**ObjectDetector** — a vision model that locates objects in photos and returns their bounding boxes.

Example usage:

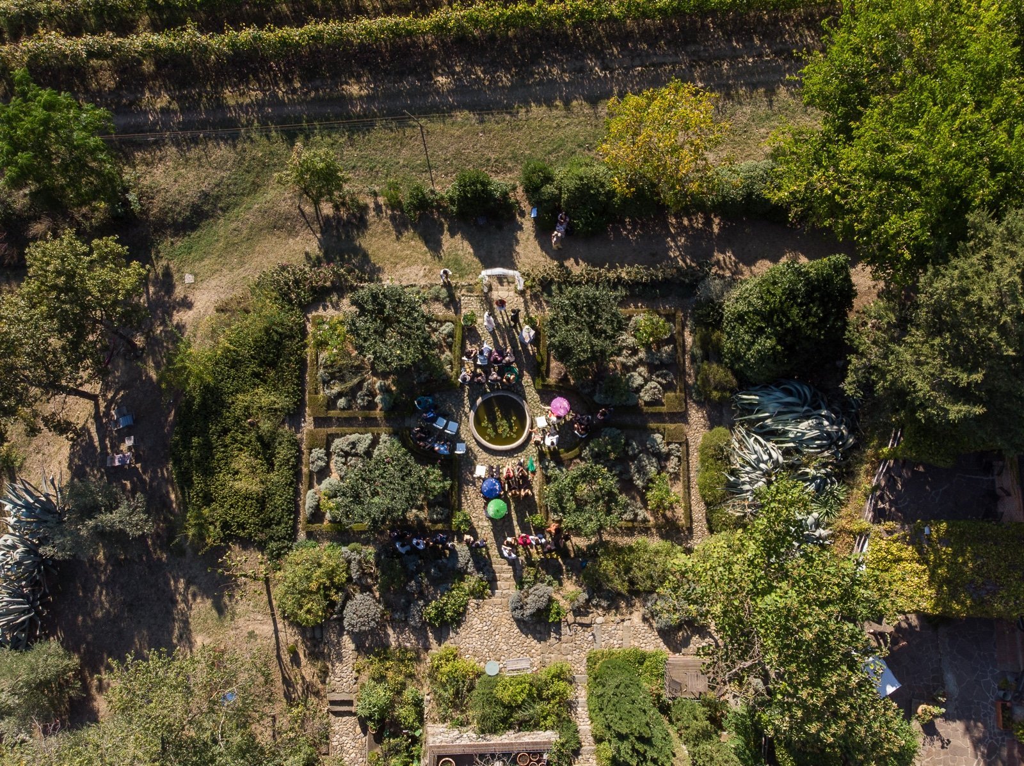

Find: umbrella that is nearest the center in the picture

[549,398,569,418]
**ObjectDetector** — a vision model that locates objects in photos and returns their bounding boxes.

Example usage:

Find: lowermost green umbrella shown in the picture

[487,500,508,521]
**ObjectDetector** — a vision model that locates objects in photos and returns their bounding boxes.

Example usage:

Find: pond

[469,391,532,453]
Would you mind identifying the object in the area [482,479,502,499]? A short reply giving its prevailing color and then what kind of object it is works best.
blue umbrella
